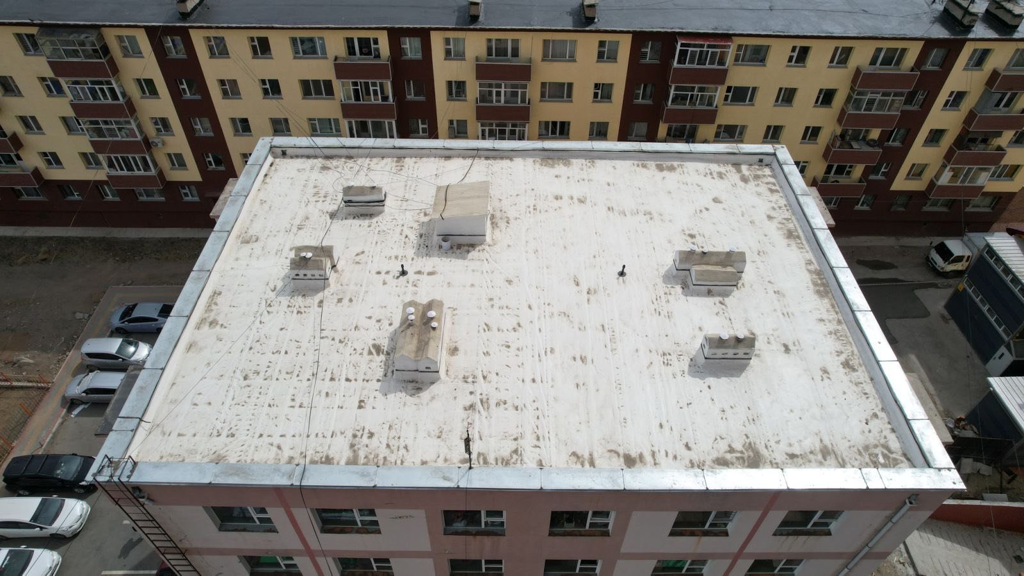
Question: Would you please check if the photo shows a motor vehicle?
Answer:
Yes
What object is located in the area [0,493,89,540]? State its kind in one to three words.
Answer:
car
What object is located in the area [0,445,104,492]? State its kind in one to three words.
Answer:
car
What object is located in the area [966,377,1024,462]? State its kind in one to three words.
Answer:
shed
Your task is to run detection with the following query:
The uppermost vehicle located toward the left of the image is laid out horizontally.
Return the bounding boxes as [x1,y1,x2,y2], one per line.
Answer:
[107,299,181,333]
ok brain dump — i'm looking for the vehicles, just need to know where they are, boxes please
[0,493,89,540]
[926,219,1019,275]
[107,299,181,333]
[63,367,129,405]
[0,445,104,492]
[76,335,161,370]
[0,546,62,576]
